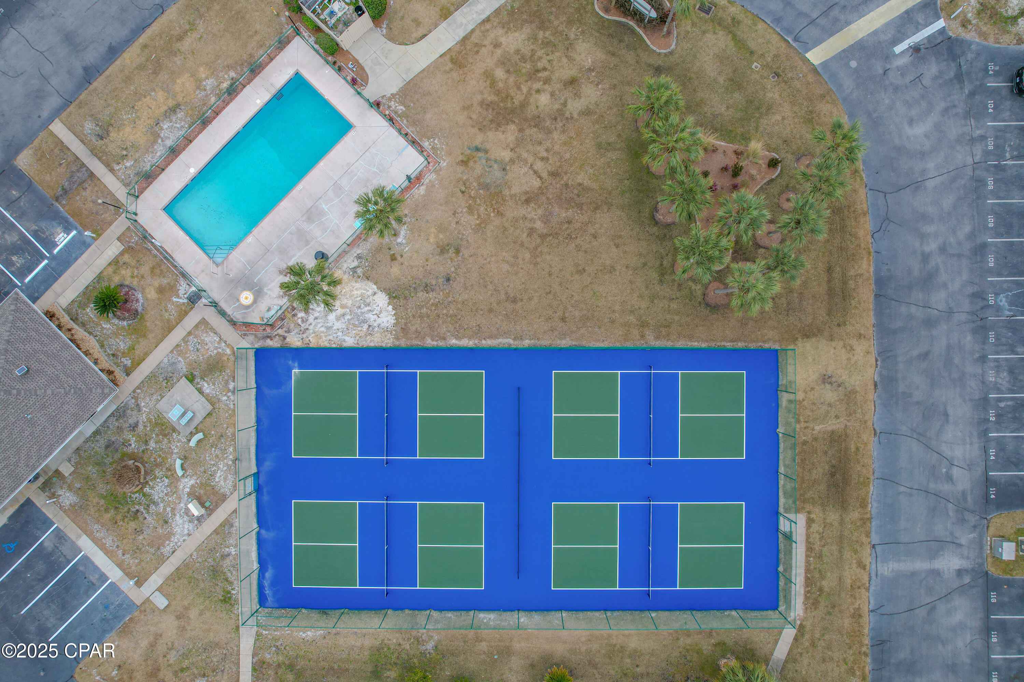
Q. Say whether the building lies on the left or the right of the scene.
left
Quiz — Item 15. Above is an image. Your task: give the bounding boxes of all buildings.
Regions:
[0,288,120,511]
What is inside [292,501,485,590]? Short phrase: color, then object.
green sports court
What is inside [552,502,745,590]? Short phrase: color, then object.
green sports court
